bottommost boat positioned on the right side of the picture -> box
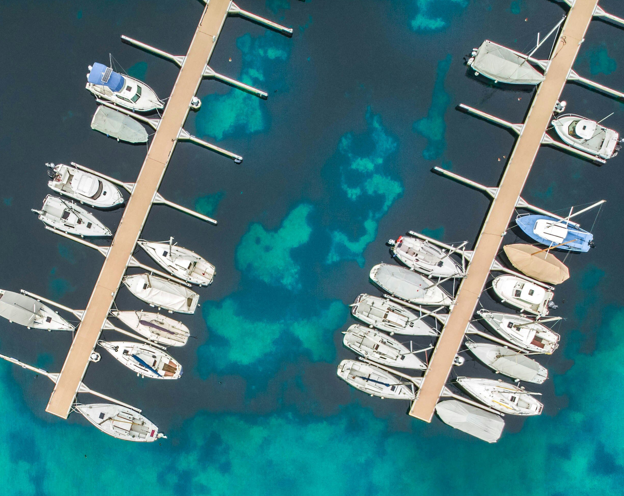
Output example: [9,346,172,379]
[435,400,503,444]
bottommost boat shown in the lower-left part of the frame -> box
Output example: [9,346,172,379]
[70,394,165,445]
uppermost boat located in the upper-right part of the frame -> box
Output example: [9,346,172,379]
[463,14,567,91]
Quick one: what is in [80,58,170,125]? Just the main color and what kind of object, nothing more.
white boat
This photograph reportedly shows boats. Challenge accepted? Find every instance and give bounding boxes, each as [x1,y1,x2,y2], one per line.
[508,200,610,252]
[444,373,546,416]
[90,105,160,154]
[80,58,170,125]
[457,332,555,384]
[0,289,83,348]
[484,267,562,314]
[105,299,194,346]
[494,235,576,289]
[469,299,566,353]
[463,14,567,91]
[134,230,216,287]
[31,193,120,251]
[37,163,134,213]
[92,333,181,380]
[435,400,503,444]
[336,361,419,407]
[338,327,435,378]
[116,268,203,314]
[70,394,165,445]
[546,111,623,159]
[368,264,458,314]
[348,297,445,346]
[388,233,469,287]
